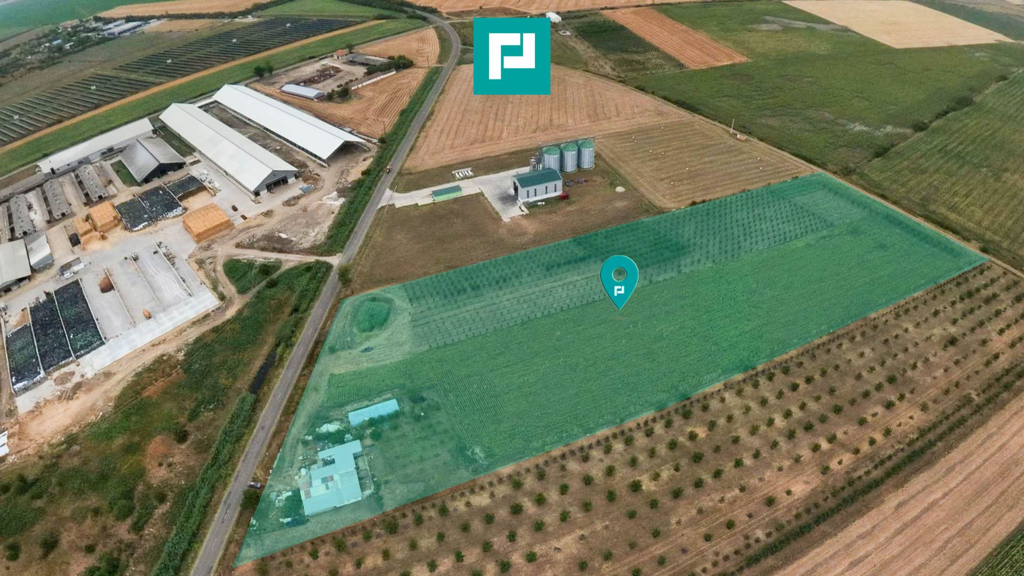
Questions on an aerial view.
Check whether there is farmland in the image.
Yes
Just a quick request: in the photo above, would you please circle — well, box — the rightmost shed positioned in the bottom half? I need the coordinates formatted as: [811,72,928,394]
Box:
[349,399,399,428]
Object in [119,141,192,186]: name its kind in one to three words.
barn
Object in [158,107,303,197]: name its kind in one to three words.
barn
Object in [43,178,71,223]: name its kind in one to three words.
shed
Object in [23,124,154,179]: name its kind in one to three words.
building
